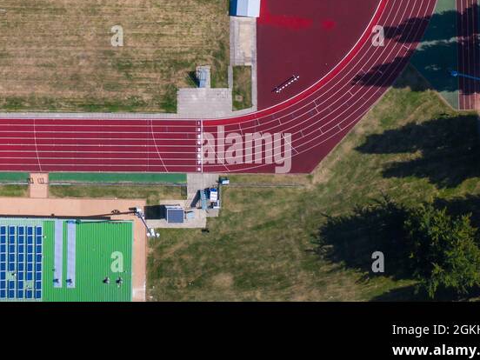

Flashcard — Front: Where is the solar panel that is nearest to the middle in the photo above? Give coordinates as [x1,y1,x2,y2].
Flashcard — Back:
[169,211,185,225]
